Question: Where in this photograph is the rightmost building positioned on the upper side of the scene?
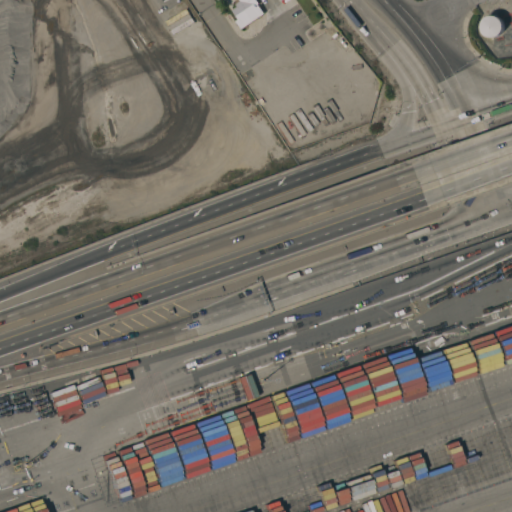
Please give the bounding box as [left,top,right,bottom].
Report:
[229,0,262,30]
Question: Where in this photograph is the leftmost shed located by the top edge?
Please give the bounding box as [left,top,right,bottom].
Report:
[165,9,194,35]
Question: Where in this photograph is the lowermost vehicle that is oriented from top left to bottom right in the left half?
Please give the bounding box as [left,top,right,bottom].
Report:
[64,484,90,502]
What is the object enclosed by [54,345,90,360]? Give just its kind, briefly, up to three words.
vehicle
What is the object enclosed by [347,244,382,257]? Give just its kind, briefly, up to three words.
vehicle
